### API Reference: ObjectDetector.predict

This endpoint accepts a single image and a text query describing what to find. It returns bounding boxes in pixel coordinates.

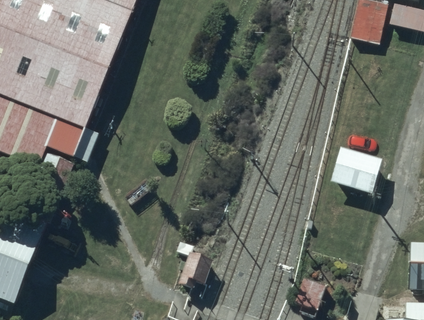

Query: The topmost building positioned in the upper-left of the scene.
[0,0,136,129]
